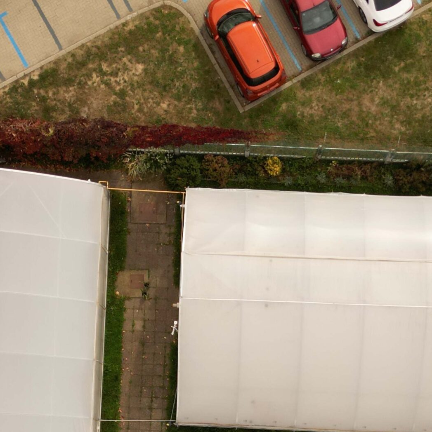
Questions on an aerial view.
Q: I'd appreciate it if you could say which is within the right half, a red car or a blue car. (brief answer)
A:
red car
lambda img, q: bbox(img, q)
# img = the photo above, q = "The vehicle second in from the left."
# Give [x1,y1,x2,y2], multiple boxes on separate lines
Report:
[278,0,342,59]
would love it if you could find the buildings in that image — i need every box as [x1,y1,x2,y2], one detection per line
[0,167,111,432]
[175,188,432,432]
